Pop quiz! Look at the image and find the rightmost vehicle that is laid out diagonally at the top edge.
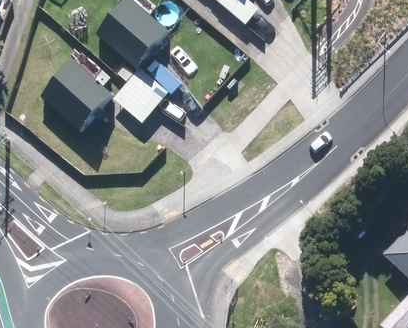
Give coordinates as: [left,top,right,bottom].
[250,12,280,41]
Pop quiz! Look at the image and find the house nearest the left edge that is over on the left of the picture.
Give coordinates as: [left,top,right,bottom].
[40,59,113,132]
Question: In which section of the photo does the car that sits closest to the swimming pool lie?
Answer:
top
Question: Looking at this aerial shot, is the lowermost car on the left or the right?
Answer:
right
